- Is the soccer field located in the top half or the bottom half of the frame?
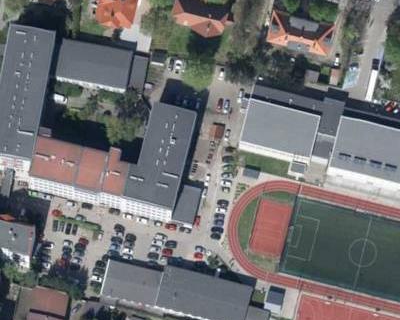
bottom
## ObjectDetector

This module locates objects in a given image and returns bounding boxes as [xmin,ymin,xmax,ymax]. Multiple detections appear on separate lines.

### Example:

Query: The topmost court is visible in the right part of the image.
[248,198,294,258]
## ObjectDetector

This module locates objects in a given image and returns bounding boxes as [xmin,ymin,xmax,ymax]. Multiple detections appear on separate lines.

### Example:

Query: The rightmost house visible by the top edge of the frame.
[268,16,335,57]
